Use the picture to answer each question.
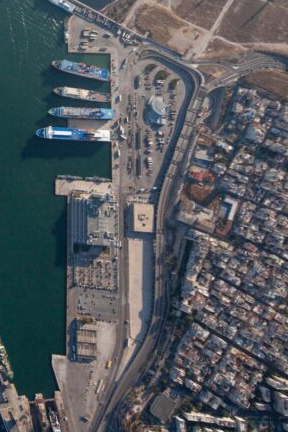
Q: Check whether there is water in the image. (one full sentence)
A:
Yes, there's water in this view.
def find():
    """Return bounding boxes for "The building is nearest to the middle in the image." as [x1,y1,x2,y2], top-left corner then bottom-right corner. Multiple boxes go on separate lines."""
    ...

[131,204,155,232]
